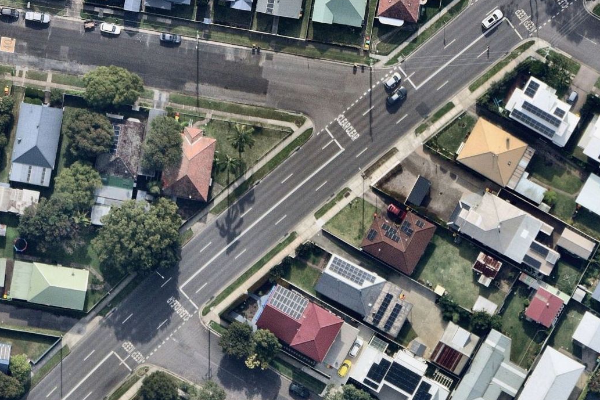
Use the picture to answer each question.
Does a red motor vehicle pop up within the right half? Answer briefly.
Yes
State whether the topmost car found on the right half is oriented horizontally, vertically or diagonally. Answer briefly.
diagonally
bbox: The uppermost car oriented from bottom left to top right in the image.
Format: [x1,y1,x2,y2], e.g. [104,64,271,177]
[482,9,504,28]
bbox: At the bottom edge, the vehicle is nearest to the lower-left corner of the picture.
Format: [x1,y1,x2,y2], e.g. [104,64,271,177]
[287,383,310,397]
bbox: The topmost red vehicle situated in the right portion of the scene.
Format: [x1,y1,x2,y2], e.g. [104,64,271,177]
[388,203,406,220]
